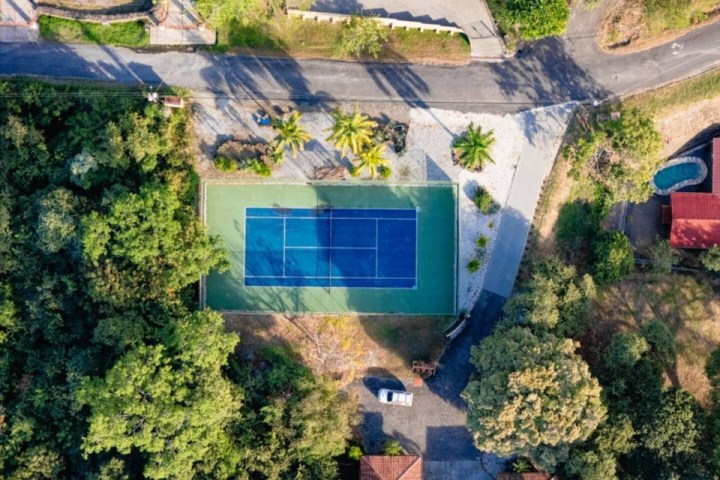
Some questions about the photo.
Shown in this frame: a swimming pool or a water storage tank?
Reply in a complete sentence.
The image shows a swimming pool.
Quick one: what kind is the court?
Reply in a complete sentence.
I'd say the court is a tennis court.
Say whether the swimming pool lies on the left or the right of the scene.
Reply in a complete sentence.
It is on the right.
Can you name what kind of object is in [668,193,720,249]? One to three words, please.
house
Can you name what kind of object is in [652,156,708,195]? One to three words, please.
swimming pool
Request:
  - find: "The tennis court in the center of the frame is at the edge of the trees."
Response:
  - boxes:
[198,178,458,316]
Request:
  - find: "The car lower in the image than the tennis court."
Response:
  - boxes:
[379,390,413,408]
